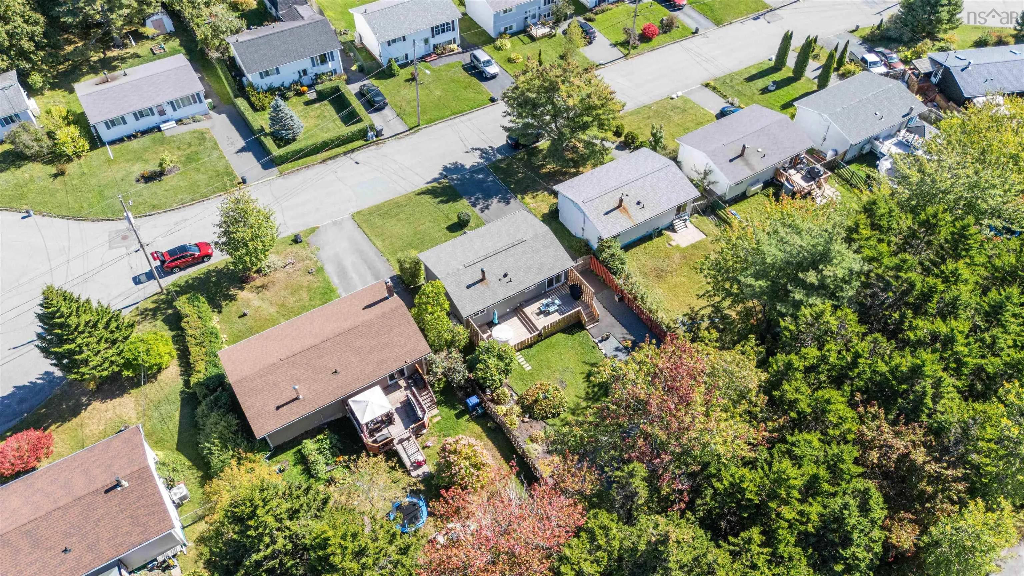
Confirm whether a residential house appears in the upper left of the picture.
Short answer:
Yes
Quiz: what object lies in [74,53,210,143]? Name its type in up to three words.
house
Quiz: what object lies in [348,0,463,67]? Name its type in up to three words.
house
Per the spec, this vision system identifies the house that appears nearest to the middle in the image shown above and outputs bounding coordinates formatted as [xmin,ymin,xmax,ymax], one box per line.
[417,208,576,332]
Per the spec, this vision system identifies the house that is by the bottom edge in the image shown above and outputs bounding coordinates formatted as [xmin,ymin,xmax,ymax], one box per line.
[0,422,191,576]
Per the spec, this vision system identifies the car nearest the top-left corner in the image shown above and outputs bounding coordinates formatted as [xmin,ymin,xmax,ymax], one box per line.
[144,241,215,274]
